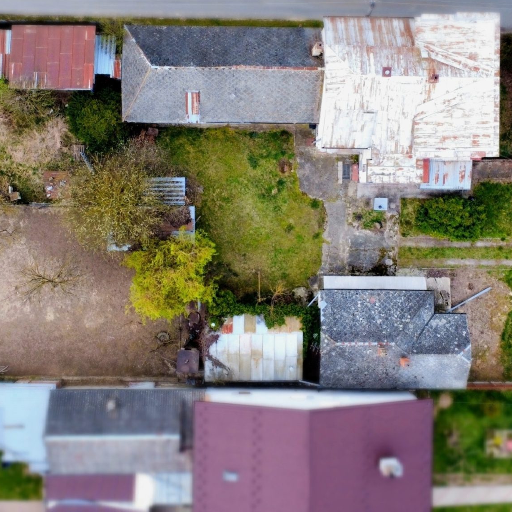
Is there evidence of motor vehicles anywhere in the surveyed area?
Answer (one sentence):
No, the photo shows no motor vehicle.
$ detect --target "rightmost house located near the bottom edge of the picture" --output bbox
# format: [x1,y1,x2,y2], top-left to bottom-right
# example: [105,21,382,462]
[195,388,432,512]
